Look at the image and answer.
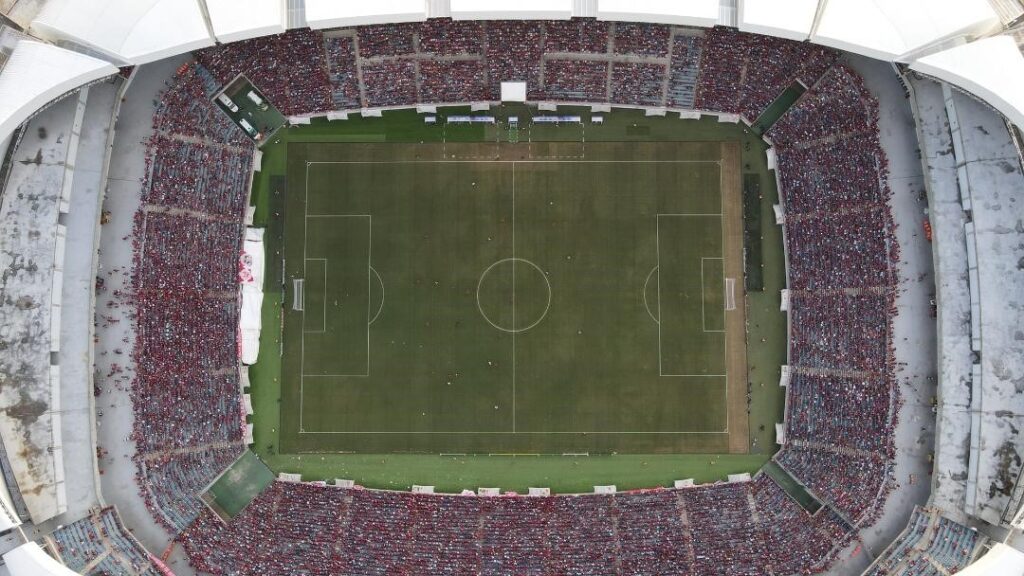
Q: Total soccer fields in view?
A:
1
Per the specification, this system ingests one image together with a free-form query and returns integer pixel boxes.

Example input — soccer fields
[281,123,749,453]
